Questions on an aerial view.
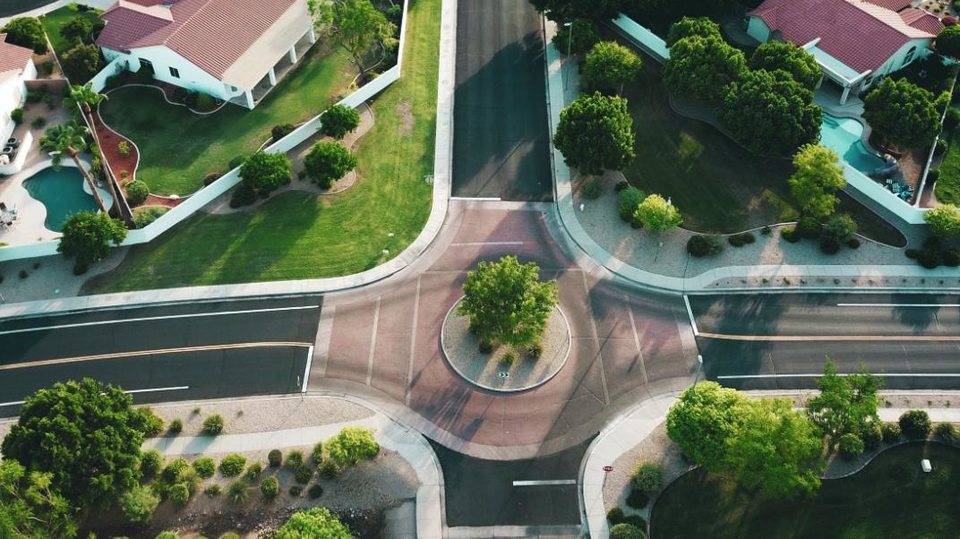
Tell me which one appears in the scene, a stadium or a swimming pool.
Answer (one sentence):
Of the two, only a swimming pool appears.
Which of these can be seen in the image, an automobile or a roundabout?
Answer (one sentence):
There is a roundabout in the scene.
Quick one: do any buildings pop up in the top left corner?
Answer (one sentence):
Yes, the scene does show a building in the top left corner.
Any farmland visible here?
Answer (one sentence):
No, the scene doesn't show any farmland.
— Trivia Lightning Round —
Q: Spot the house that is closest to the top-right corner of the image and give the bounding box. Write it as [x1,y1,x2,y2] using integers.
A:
[736,0,927,102]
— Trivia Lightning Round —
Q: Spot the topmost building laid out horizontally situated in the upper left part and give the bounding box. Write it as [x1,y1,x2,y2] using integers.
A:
[95,0,322,109]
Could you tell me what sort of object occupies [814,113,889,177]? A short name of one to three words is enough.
swimming pool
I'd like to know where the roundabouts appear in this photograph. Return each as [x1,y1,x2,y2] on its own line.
[307,200,703,459]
